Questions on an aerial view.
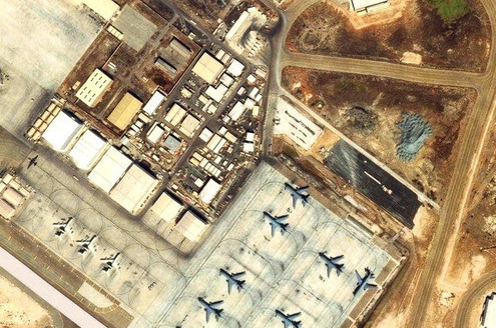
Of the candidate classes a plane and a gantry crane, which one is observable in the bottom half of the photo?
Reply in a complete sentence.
You can see a plane in the bottom half of the photo.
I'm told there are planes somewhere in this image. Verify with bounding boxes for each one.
[98,254,121,281]
[264,213,289,238]
[285,184,310,208]
[319,254,344,279]
[74,237,97,264]
[221,270,246,295]
[51,220,74,246]
[275,311,301,328]
[26,154,38,168]
[353,268,377,295]
[198,300,224,324]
